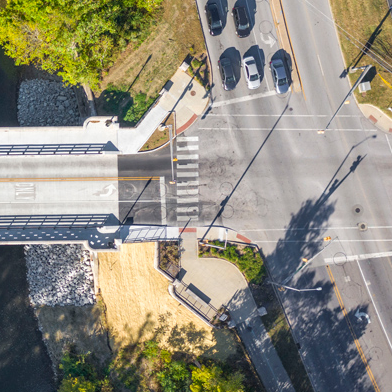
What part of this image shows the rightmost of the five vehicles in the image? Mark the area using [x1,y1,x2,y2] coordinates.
[269,58,290,95]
